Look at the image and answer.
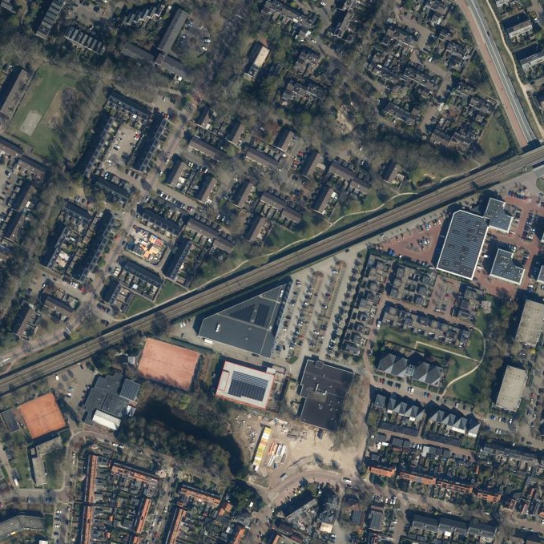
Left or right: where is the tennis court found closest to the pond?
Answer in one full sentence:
The tennis court found closest to the pond sits on the left side.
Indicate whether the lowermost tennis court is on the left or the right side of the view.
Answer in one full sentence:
The lowermost tennis court sits on the left side.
